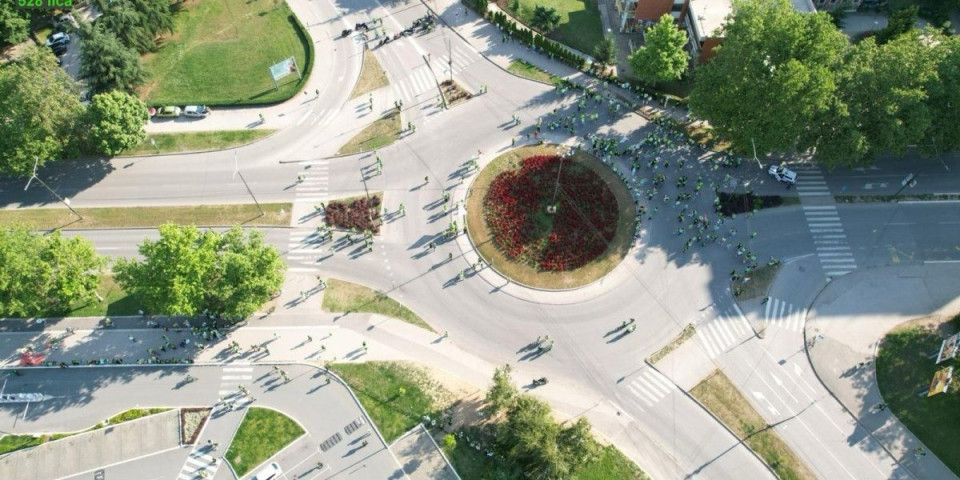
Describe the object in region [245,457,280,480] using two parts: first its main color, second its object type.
white car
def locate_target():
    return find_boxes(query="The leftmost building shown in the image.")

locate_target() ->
[617,0,683,34]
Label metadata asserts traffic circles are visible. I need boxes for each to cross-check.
[452,132,650,303]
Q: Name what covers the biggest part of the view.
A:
paved ground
